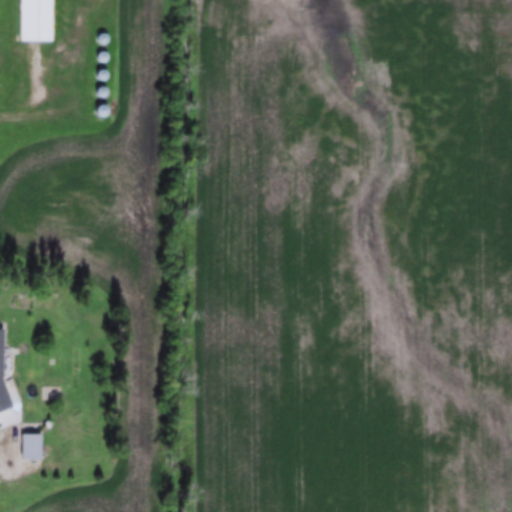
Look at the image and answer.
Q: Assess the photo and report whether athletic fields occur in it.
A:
No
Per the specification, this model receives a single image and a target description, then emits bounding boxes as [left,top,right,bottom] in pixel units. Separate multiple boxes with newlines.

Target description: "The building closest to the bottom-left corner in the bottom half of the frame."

[22,432,44,460]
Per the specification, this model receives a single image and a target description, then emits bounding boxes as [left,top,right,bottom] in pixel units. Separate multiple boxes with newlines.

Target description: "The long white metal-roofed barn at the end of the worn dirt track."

[20,0,54,42]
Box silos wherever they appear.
[95,86,110,100]
[96,32,110,47]
[96,104,110,118]
[96,50,110,64]
[95,68,110,82]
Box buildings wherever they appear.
[20,0,54,42]
[0,332,12,410]
[22,432,44,460]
